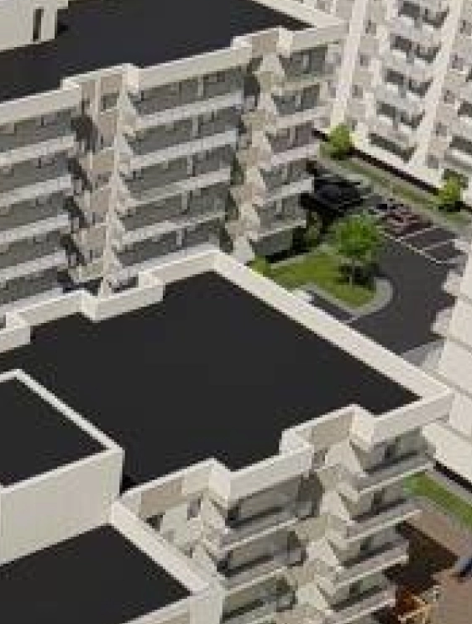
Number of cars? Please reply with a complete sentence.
The picture shows 3 cars.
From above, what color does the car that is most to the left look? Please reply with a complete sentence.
In this view, the car that is most to the left is black.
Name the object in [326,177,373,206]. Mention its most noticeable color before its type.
black car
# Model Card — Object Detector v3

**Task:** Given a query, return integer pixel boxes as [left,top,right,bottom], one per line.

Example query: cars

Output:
[367,198,416,225]
[326,177,373,206]
[387,211,434,235]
